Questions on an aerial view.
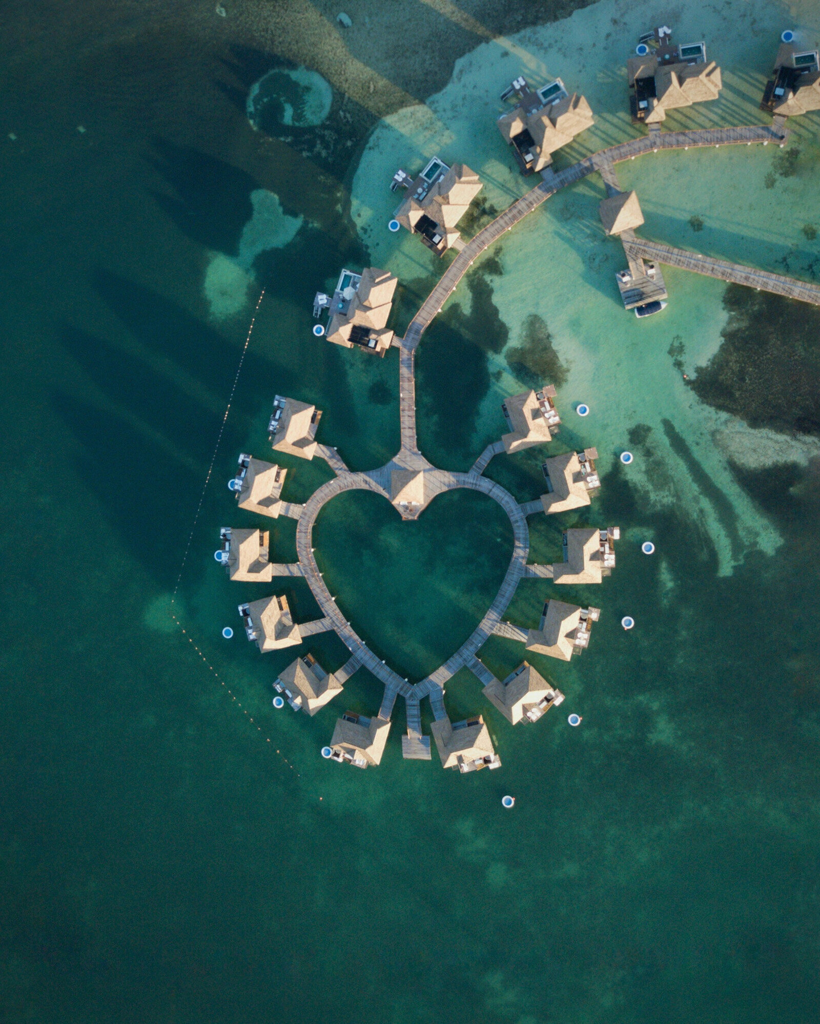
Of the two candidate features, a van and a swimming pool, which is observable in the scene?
swimming pool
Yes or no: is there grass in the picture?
No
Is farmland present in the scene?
No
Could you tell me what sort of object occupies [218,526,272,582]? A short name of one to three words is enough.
house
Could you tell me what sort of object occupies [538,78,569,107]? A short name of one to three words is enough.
swimming pool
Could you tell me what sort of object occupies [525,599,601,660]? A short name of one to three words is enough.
house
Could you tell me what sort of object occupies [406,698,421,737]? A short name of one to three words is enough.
pier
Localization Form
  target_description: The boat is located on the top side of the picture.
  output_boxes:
[634,300,670,318]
